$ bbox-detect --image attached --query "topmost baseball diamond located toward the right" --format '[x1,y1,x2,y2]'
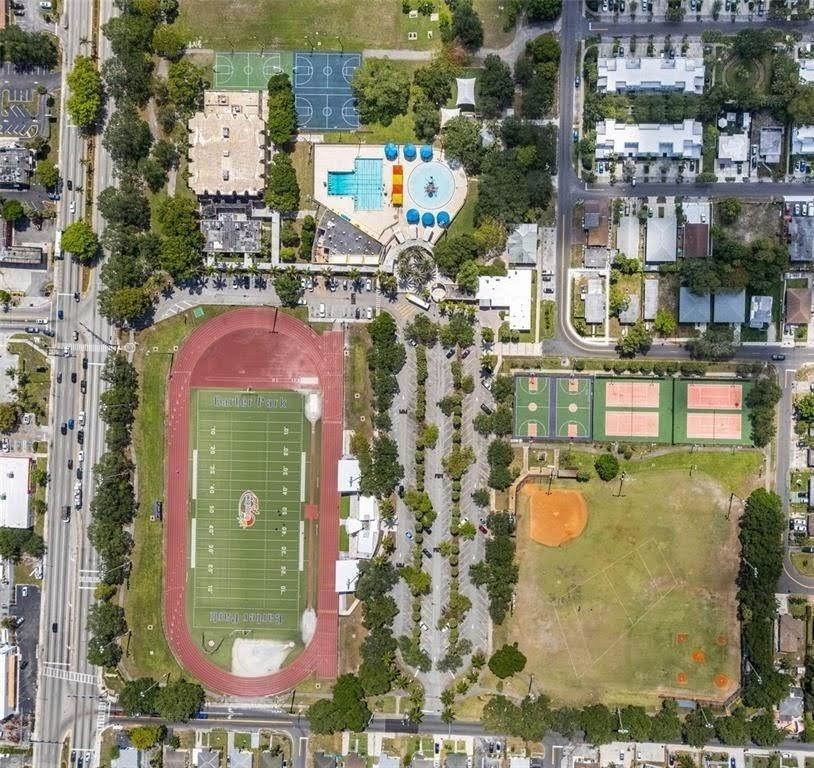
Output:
[519,483,589,548]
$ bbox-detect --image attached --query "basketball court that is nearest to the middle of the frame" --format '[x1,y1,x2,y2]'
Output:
[514,374,553,441]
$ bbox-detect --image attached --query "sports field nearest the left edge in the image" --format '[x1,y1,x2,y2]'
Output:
[184,390,322,677]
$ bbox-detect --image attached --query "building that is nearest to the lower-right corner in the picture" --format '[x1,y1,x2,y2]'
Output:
[777,693,803,716]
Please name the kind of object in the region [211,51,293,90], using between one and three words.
basketball court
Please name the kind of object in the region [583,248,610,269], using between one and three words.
house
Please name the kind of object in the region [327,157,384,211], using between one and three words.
swimming pool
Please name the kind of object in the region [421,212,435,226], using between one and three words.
umbrella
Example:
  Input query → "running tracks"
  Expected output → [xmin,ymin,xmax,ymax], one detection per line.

[163,307,342,697]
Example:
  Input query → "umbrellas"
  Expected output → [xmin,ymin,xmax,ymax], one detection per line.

[436,212,451,226]
[385,144,398,158]
[421,146,434,160]
[403,145,417,159]
[421,212,435,226]
[407,210,420,223]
